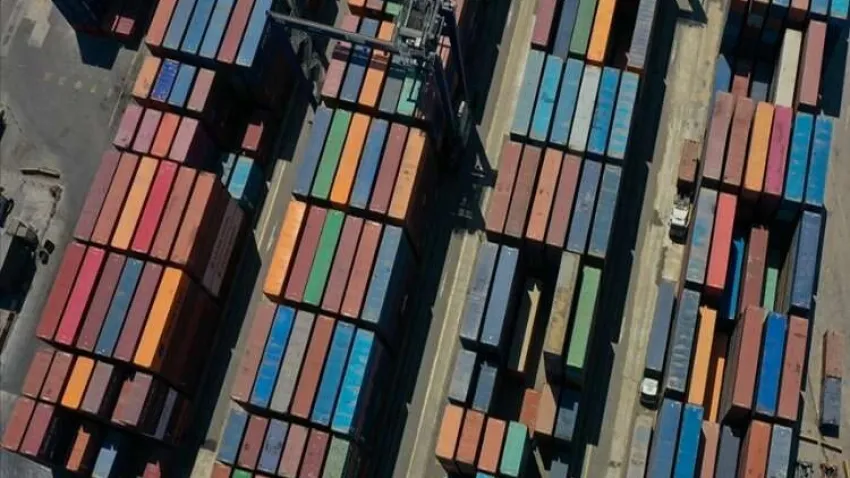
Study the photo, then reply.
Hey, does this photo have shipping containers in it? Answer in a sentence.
Yes, there is a shipping container in the image.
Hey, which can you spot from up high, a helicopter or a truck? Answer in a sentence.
The image shows a truck.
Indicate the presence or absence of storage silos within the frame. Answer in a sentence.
No, no storage silo can be seen from above.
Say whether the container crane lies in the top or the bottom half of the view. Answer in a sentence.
Seen from above, the container crane lies in the top half of the view.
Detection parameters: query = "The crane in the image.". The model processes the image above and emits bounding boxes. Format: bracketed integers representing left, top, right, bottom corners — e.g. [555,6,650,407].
[264,0,477,143]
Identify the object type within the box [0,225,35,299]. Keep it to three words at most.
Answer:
truck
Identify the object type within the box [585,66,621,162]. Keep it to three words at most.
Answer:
shipping container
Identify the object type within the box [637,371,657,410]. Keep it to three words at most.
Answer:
vehicle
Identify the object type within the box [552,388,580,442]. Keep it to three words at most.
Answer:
shipping container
